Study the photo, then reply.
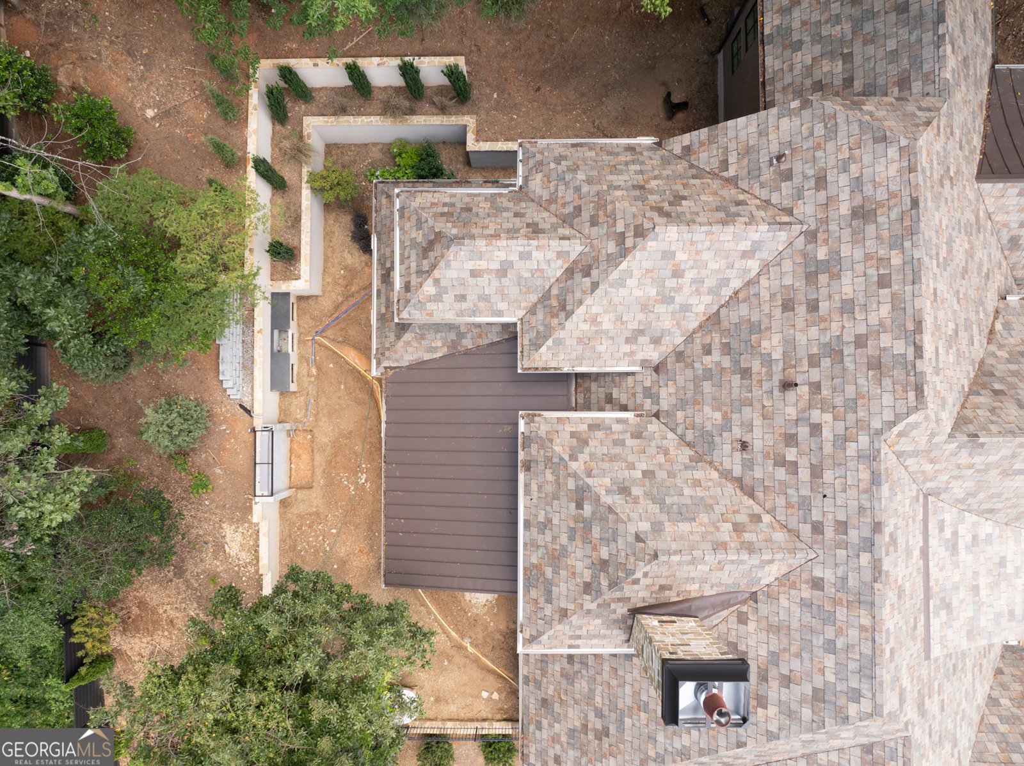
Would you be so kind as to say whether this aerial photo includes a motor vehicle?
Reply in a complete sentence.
No, no motor vehicle is visible in the scene.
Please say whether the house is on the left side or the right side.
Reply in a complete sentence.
You can find the house on the right side of the picture.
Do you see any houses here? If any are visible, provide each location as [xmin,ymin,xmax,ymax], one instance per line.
[371,0,1024,766]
